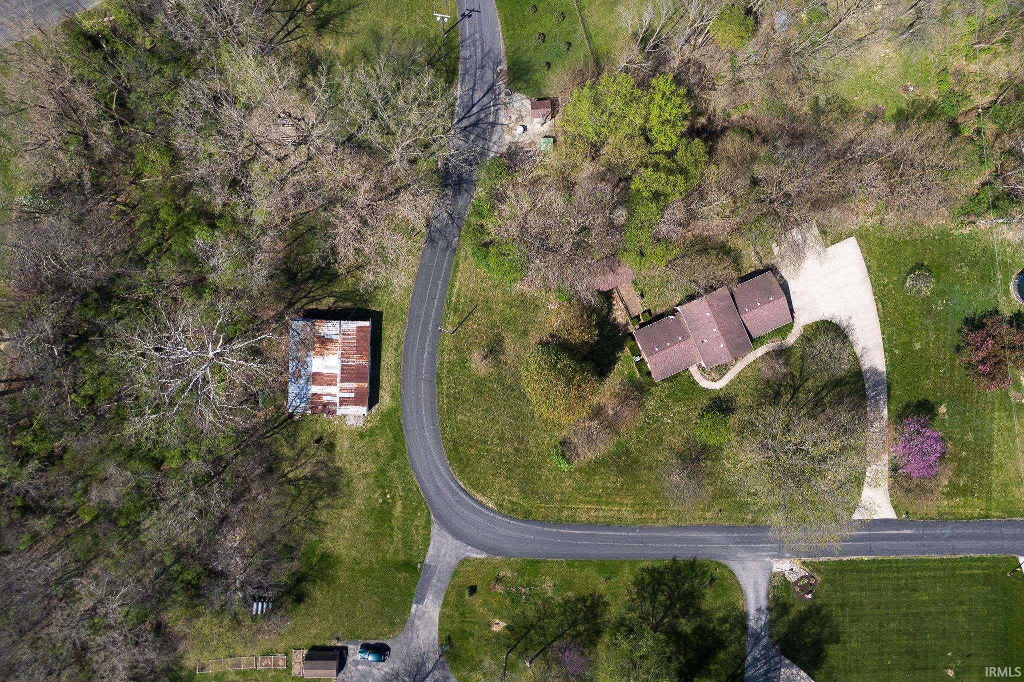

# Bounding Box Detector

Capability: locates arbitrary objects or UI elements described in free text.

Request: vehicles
[354,645,390,662]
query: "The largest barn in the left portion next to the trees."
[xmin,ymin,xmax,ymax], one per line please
[287,319,374,417]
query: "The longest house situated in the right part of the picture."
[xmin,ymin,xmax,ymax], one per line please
[633,269,793,382]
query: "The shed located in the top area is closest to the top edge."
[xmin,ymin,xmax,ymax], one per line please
[530,97,551,117]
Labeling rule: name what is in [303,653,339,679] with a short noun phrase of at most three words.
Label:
shed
